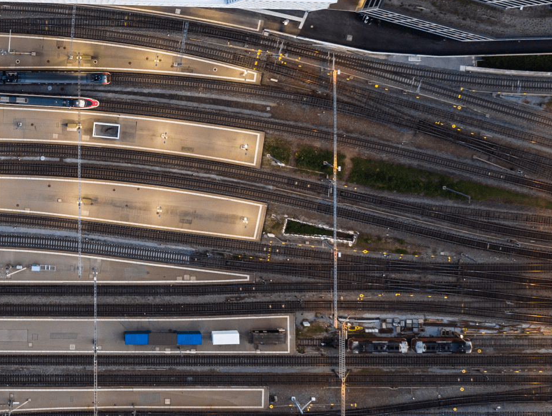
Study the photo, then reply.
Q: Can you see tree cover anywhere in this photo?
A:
No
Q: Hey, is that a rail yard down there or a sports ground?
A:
rail yard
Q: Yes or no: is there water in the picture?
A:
No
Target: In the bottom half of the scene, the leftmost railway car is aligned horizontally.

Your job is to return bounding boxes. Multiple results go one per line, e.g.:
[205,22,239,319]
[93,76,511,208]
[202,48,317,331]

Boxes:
[347,338,406,353]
